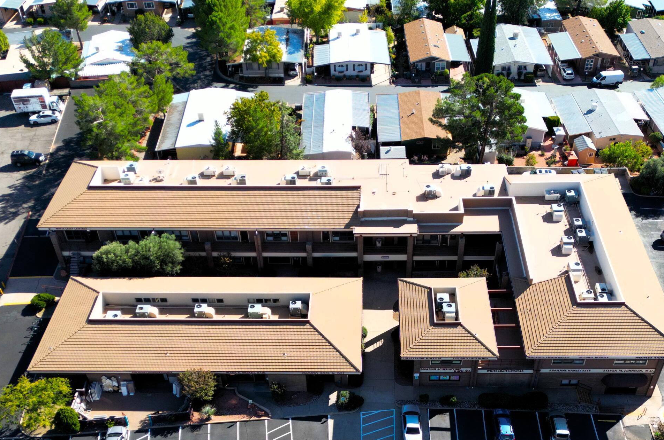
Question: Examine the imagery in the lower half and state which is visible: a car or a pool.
car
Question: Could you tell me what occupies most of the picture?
buildings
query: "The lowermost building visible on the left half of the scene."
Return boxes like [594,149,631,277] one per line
[28,275,364,390]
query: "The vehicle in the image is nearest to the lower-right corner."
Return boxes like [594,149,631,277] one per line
[546,409,571,440]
